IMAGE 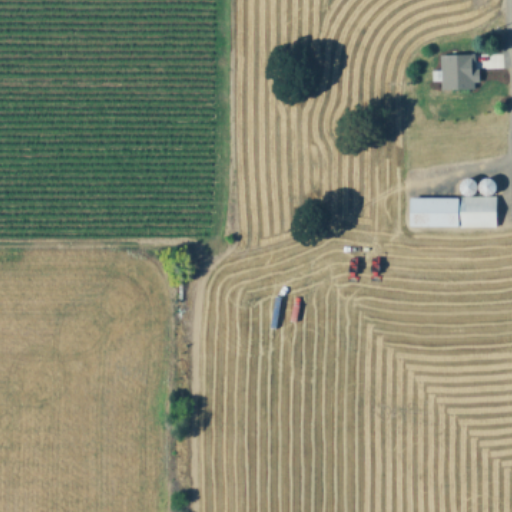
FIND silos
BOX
[479,178,498,196]
[460,178,480,196]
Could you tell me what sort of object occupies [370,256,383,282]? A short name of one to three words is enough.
vehicle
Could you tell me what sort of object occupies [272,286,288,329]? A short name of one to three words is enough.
vehicle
